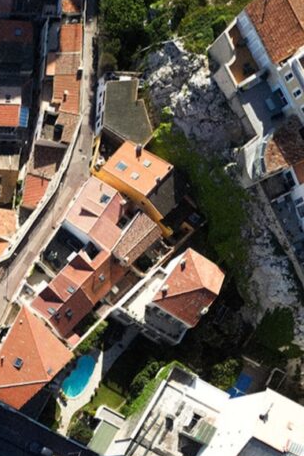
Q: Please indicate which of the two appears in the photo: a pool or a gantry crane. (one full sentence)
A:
I can see a pool in this picture.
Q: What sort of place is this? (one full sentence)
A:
It's a residential area.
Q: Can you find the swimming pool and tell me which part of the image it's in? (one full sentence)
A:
The swimming pool sits in the bottom left section of the image.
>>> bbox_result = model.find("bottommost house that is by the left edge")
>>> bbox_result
[0,305,73,418]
